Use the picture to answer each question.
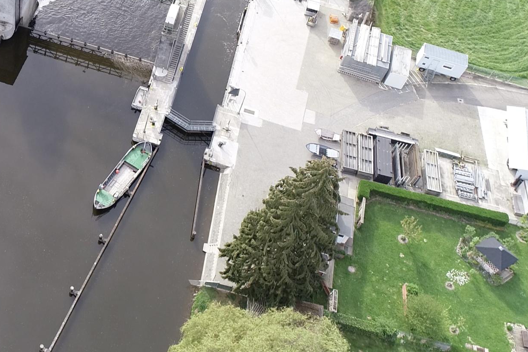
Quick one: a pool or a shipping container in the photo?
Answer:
shipping container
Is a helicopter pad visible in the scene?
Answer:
No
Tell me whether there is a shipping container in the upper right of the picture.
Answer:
Yes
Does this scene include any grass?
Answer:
Yes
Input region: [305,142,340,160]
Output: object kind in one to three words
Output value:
boat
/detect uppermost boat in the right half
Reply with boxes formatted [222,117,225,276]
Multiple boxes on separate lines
[313,128,340,142]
